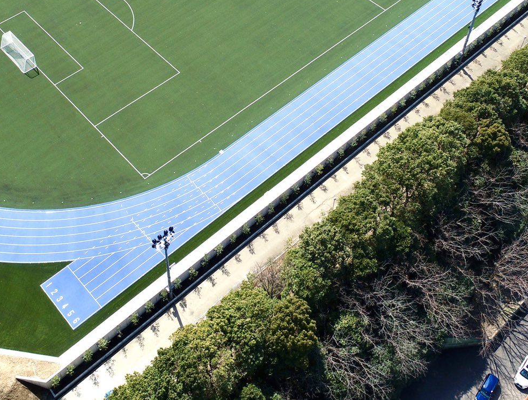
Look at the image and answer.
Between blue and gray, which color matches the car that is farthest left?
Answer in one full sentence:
The color of the car that is farthest left is blue.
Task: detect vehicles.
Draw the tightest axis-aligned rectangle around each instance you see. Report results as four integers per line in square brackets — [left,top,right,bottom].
[514,353,528,390]
[475,371,499,400]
